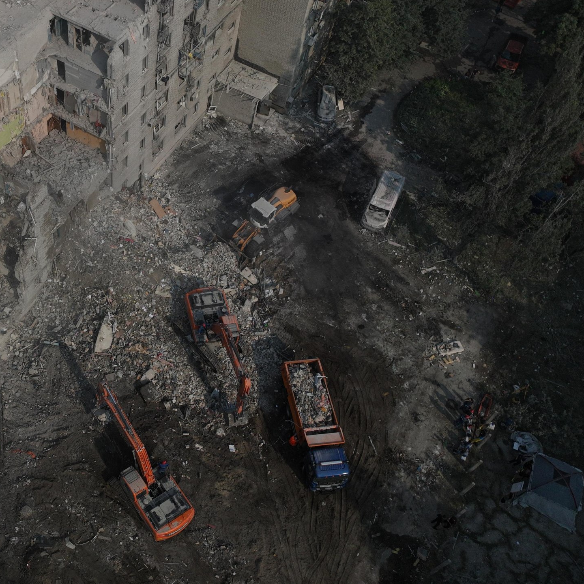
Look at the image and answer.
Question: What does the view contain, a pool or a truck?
truck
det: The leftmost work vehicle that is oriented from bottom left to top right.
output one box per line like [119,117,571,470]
[215,190,301,265]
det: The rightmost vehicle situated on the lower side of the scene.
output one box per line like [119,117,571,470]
[274,354,355,497]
